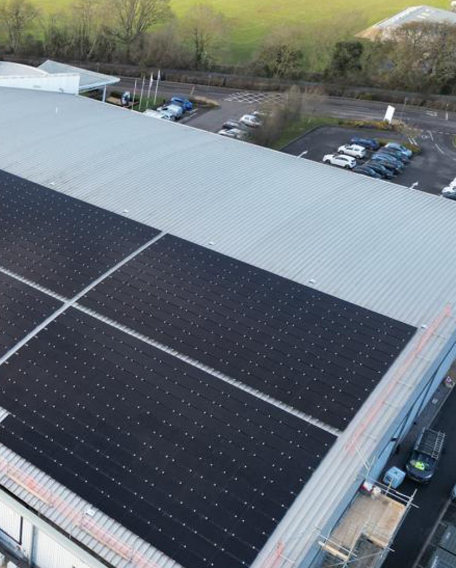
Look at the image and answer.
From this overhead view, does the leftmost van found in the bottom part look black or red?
black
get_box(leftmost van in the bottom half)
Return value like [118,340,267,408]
[398,429,448,485]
